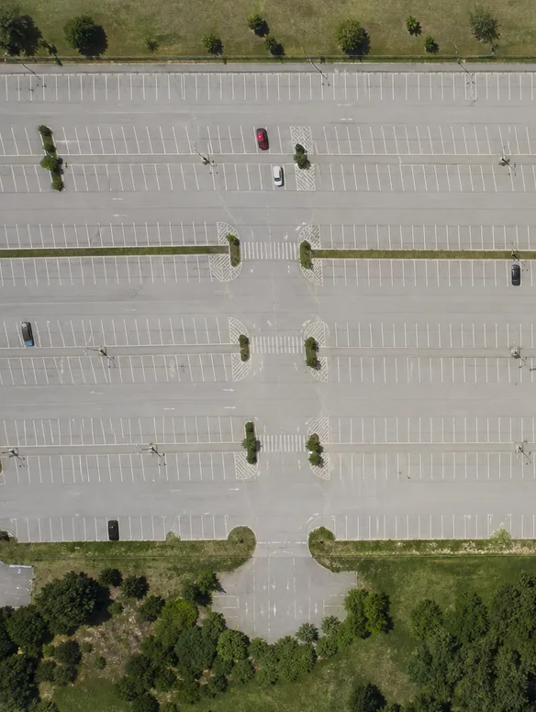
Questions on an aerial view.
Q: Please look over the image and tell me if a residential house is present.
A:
No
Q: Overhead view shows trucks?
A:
No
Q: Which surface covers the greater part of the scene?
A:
paved ground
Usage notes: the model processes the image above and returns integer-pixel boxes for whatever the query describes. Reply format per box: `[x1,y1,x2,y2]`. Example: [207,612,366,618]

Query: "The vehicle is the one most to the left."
[18,322,33,346]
